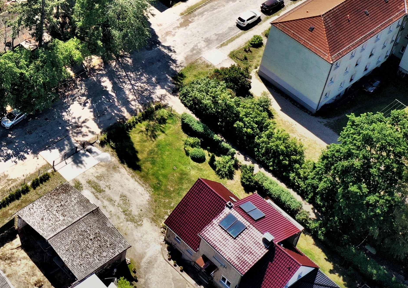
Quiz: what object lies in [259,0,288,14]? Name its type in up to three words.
vehicle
